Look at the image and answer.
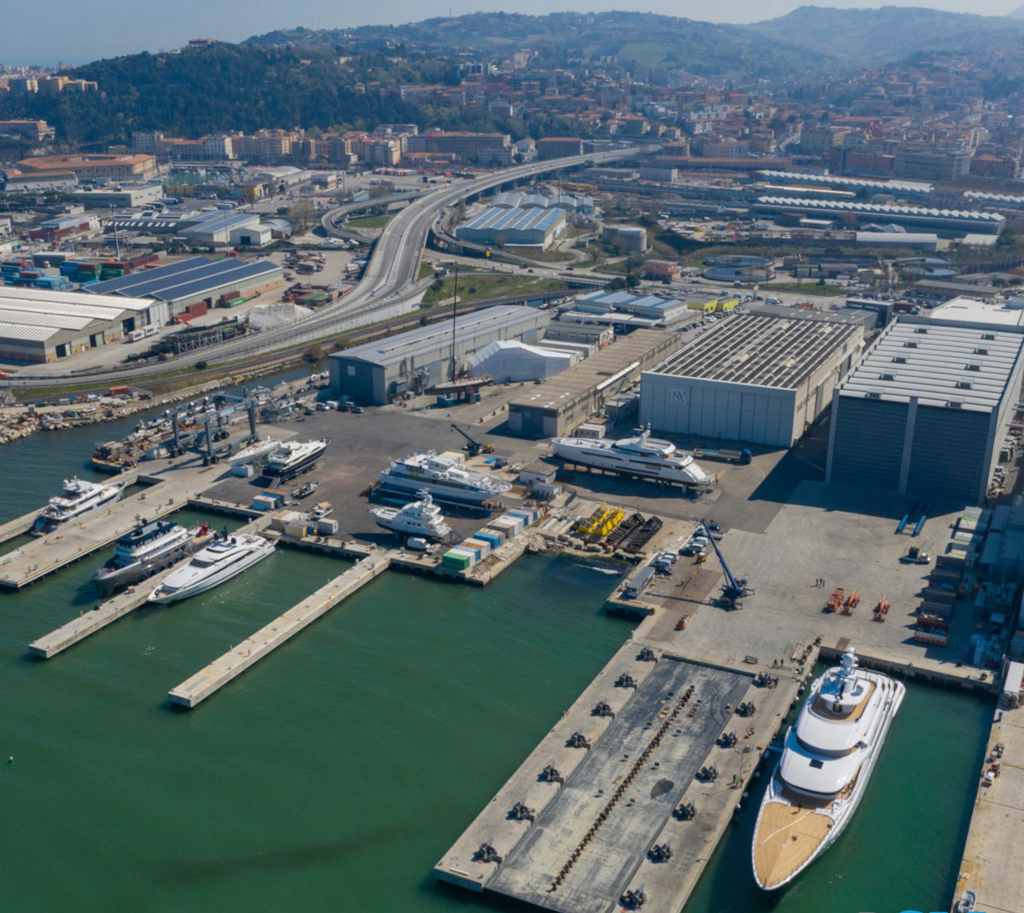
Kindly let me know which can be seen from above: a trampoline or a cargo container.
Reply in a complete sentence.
This aerial view contains a cargo container.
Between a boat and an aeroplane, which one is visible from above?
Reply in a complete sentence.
I can see a boat in this picture.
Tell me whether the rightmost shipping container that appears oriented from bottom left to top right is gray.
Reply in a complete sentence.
Yes, gray is the color of the rightmost shipping container that appears oriented from bottom left to top right.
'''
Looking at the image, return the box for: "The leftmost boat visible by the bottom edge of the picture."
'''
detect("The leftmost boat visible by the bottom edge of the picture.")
[756,640,902,899]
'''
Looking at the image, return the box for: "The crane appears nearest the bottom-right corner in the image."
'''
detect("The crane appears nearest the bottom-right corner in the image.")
[701,519,749,614]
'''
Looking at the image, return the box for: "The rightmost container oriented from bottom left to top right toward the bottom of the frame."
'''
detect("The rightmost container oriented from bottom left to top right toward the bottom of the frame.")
[616,562,657,604]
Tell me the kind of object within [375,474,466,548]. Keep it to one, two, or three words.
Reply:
boat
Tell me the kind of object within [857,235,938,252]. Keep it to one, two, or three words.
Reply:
shed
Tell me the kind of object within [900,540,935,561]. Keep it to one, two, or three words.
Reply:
truck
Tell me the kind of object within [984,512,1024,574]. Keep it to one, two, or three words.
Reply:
building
